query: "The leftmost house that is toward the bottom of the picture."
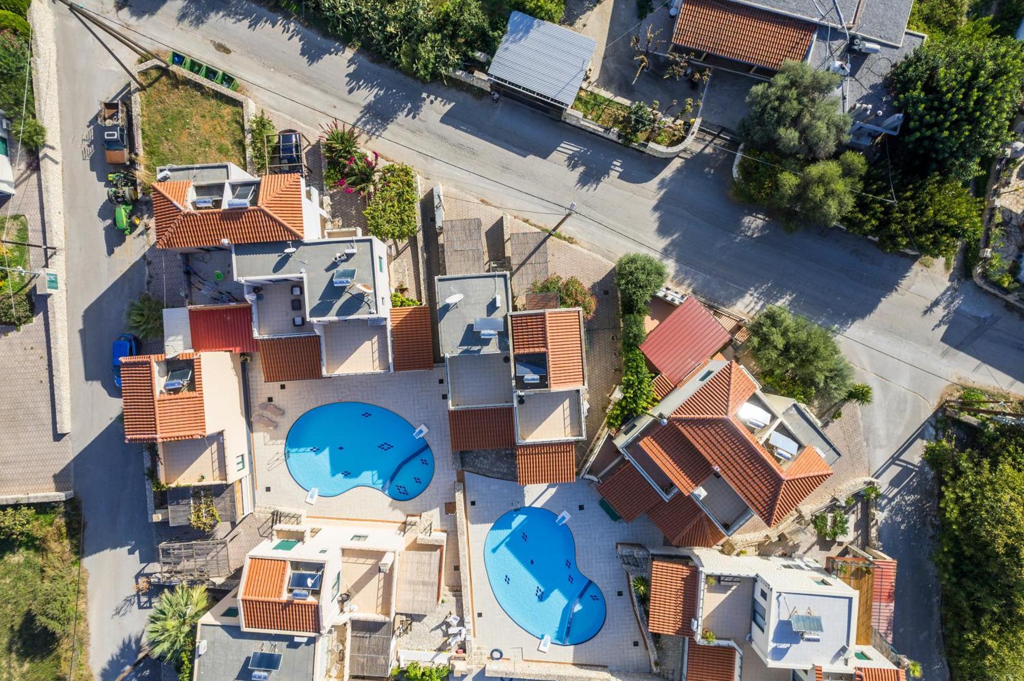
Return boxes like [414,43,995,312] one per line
[119,351,259,513]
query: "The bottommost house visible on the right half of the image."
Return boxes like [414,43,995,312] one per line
[648,554,904,681]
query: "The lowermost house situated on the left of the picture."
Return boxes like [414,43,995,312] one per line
[194,515,449,681]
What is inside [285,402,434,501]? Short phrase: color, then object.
blue swimming pool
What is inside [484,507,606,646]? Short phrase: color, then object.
blue swimming pool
